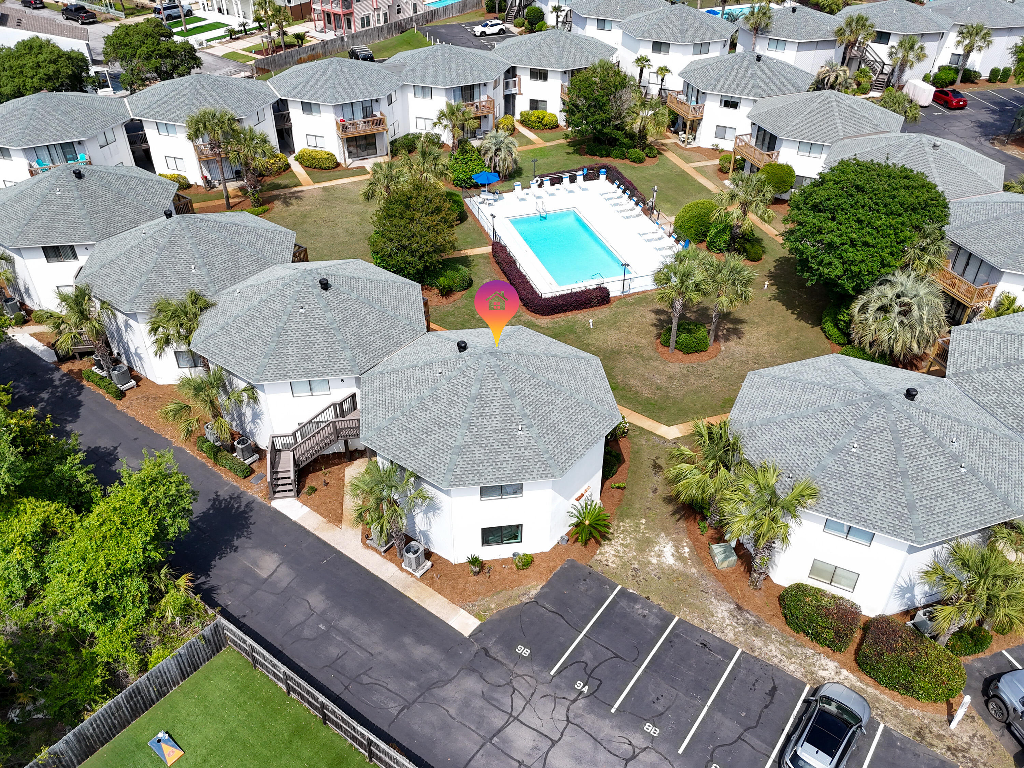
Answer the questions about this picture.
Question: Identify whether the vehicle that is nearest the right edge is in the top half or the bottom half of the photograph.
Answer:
bottom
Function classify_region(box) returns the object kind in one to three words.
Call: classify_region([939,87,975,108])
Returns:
car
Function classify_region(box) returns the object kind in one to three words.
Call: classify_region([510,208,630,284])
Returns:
swimming pool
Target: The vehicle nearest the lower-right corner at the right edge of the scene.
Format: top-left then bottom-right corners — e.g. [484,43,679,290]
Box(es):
[988,667,1024,732]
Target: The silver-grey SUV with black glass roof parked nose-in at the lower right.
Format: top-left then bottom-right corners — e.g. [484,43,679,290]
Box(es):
[781,675,879,768]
